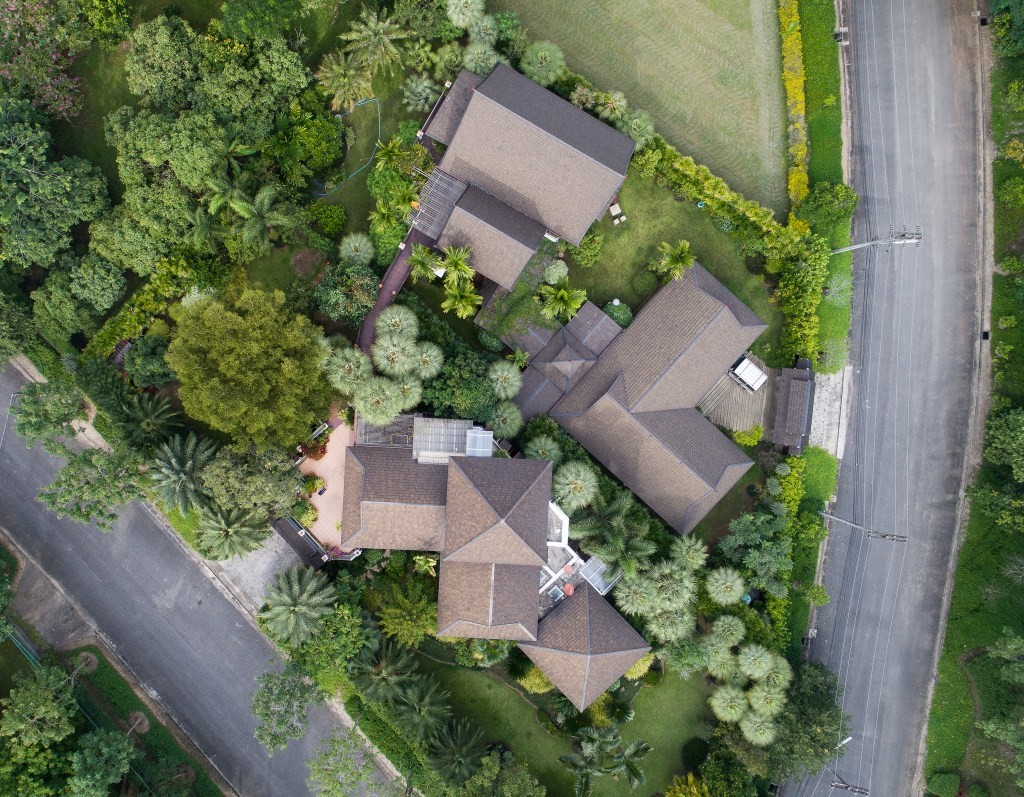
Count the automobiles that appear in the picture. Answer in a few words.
1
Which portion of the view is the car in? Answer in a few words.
right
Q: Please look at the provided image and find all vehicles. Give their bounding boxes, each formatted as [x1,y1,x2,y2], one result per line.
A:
[728,351,770,392]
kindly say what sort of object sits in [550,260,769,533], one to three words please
house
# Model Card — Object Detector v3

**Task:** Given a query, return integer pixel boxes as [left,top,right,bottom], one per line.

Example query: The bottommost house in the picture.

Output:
[340,417,652,713]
